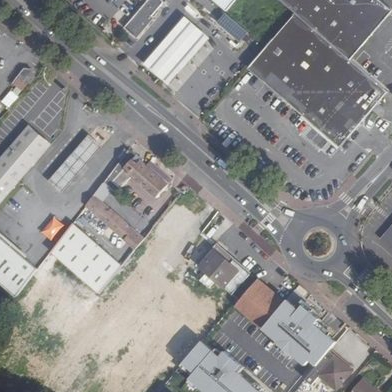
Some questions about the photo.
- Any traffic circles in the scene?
Yes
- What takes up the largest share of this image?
paved ground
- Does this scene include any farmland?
No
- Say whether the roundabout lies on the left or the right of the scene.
right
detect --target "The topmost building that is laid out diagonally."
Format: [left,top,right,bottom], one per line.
[124,0,164,40]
